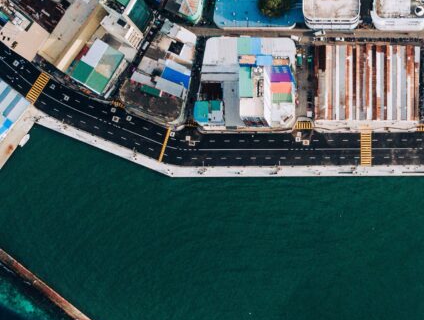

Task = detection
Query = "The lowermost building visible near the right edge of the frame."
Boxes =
[315,43,419,121]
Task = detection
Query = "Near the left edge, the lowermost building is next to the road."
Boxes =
[0,81,37,153]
